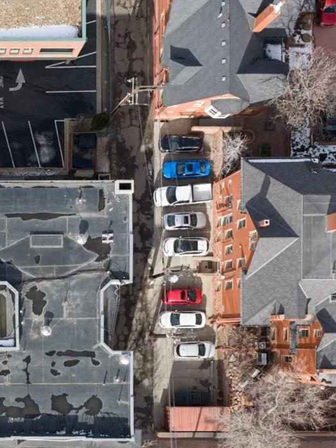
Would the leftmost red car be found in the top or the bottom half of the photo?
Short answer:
bottom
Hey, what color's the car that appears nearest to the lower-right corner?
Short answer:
white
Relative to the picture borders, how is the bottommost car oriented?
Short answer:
horizontally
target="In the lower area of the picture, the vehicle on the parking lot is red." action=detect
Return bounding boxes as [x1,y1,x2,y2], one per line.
[161,285,202,306]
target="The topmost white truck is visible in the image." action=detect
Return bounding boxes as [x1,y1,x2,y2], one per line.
[153,182,214,206]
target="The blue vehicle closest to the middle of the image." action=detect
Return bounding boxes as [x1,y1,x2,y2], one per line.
[161,156,211,181]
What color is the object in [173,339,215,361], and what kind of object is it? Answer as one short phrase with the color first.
white car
